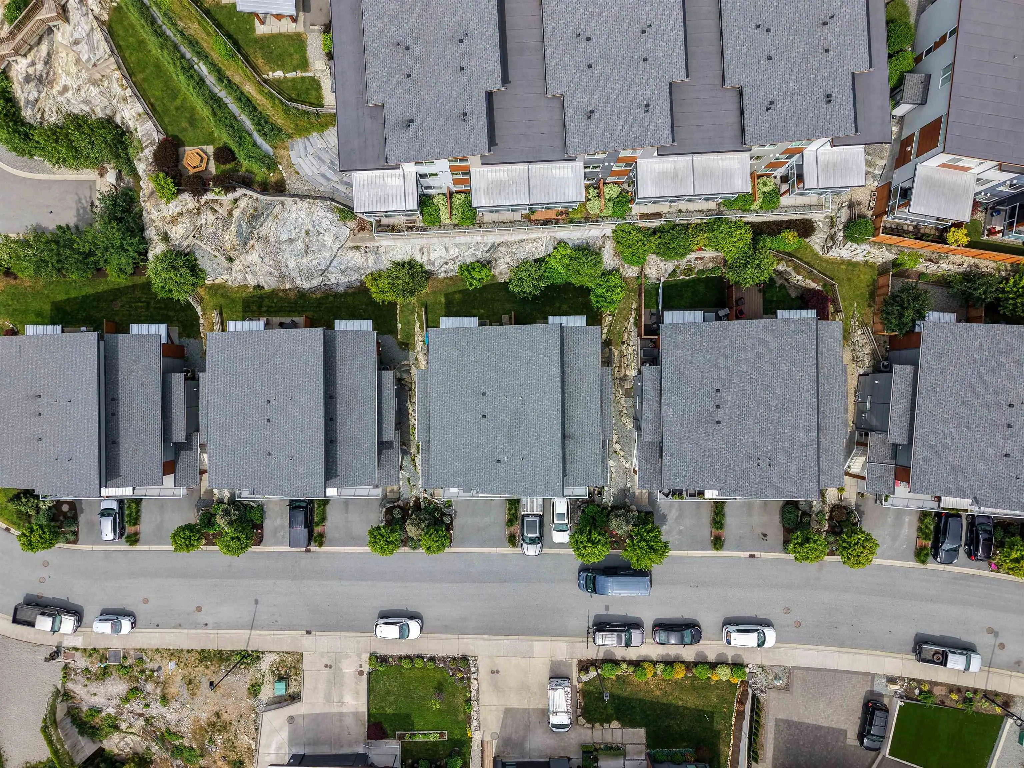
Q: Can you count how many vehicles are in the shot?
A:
16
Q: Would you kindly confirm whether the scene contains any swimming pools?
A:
No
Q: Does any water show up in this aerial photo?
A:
No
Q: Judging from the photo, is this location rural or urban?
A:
urban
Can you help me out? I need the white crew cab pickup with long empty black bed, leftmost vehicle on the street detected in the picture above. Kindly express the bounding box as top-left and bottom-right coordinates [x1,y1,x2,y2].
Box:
[13,603,82,634]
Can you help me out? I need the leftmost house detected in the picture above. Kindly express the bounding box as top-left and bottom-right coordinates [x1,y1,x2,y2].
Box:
[0,323,201,499]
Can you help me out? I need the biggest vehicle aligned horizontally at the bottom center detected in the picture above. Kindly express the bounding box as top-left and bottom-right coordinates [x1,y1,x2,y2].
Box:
[578,566,649,594]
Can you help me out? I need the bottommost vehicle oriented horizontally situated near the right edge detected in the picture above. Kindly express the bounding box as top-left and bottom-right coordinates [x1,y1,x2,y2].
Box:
[913,640,976,672]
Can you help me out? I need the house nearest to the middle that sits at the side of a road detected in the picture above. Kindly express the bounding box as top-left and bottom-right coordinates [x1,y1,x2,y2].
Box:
[416,315,613,500]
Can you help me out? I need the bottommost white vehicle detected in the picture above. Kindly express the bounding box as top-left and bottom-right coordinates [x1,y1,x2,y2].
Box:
[548,673,572,727]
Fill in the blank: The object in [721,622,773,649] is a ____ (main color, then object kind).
white car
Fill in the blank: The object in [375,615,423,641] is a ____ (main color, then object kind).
white car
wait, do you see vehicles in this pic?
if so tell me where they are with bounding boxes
[100,497,127,542]
[95,611,139,636]
[651,621,699,647]
[913,640,976,672]
[520,498,544,551]
[548,673,572,727]
[961,513,993,562]
[593,621,642,648]
[578,566,649,594]
[721,622,773,649]
[289,497,315,549]
[856,696,887,748]
[375,615,423,641]
[13,603,82,634]
[549,497,572,544]
[929,512,962,564]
